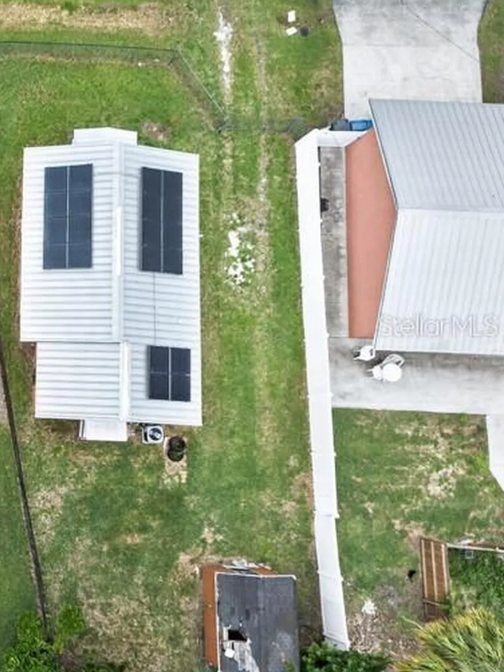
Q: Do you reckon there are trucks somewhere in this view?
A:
No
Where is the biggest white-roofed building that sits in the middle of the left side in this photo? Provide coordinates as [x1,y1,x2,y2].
[17,125,203,442]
